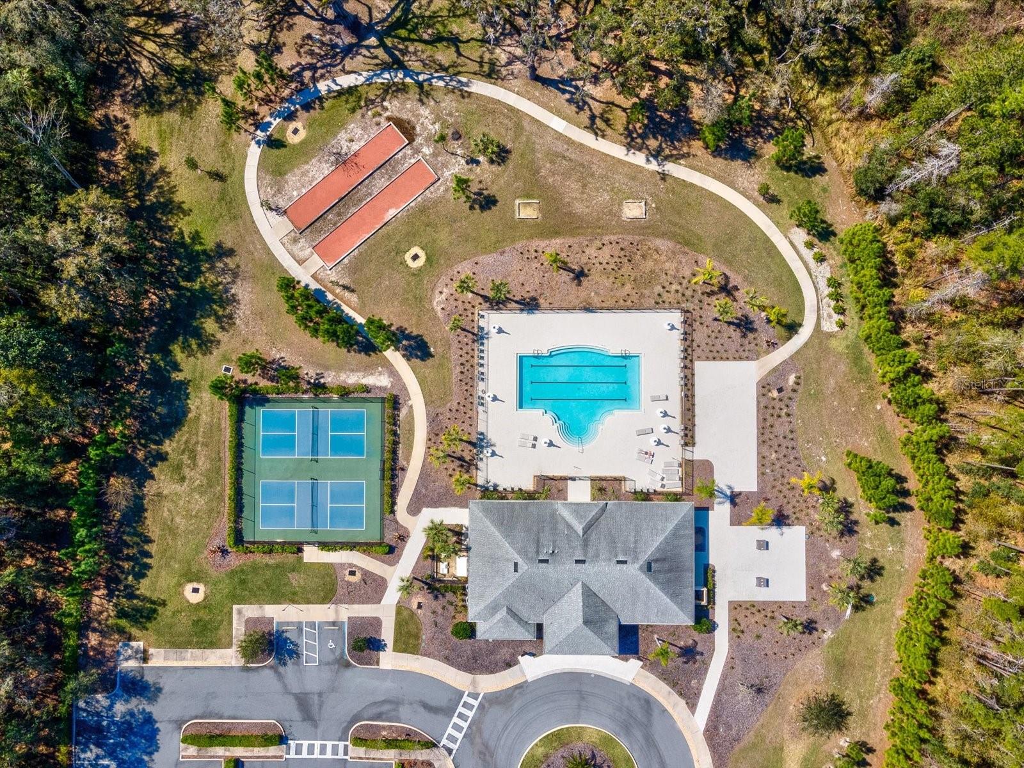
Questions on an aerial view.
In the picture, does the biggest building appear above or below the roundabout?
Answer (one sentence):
Looking at the scene, the biggest building is located above the roundabout.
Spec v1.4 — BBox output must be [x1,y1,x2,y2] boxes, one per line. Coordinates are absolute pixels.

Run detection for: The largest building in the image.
[468,500,695,656]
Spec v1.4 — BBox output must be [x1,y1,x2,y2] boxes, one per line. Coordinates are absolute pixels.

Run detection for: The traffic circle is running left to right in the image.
[464,671,692,768]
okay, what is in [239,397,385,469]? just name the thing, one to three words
sports court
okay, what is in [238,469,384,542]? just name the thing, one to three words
sports court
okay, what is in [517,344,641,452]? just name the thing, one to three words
swimming pool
